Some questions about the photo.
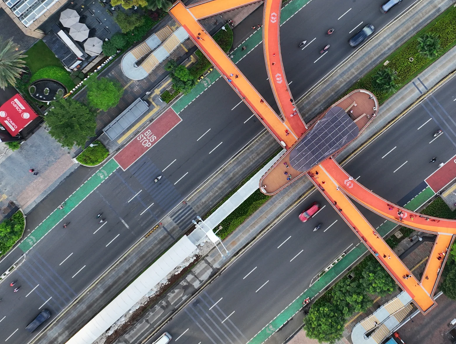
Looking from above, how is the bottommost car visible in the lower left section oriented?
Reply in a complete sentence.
What the image shows is the bottommost car visible in the lower left section lying on a diagonal.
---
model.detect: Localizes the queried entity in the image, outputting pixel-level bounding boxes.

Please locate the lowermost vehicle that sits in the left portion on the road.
[26,308,52,334]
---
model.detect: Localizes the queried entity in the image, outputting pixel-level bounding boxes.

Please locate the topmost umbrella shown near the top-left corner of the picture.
[60,9,80,27]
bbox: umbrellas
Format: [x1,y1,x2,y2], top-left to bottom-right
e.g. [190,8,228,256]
[70,23,89,42]
[60,9,80,27]
[85,38,101,56]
